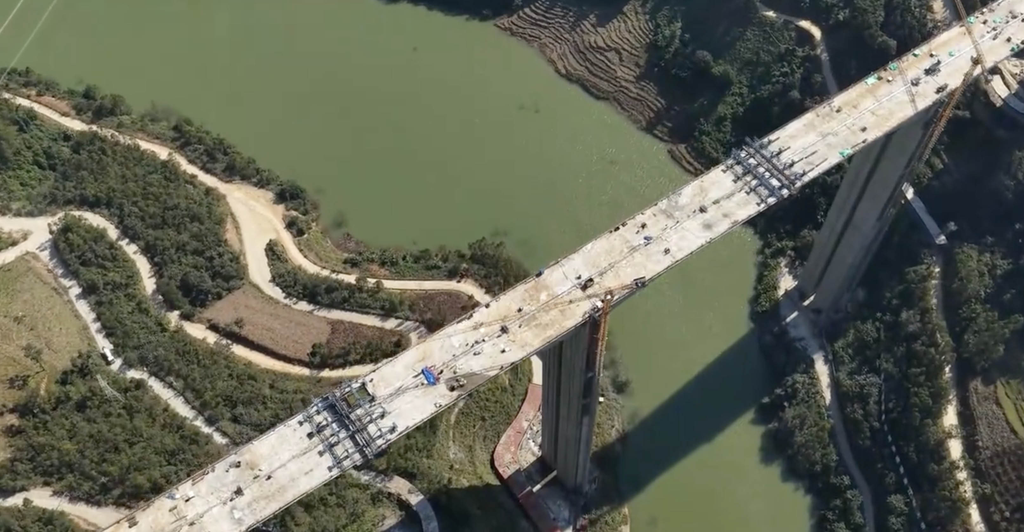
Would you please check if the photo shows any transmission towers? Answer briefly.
Yes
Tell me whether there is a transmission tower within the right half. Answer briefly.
No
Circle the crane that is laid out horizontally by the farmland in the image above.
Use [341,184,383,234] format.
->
[435,283,650,397]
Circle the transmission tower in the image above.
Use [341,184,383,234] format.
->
[95,373,127,400]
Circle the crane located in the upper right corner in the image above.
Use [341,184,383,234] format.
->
[895,0,987,177]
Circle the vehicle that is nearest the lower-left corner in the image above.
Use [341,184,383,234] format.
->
[100,345,116,362]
